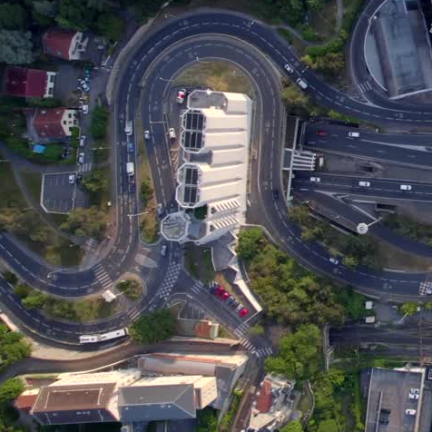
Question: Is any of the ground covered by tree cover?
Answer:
Yes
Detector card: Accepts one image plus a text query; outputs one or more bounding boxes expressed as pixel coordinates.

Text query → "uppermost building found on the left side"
[44,28,88,60]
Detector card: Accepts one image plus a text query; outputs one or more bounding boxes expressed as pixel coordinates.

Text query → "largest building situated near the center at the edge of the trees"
[161,90,253,270]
